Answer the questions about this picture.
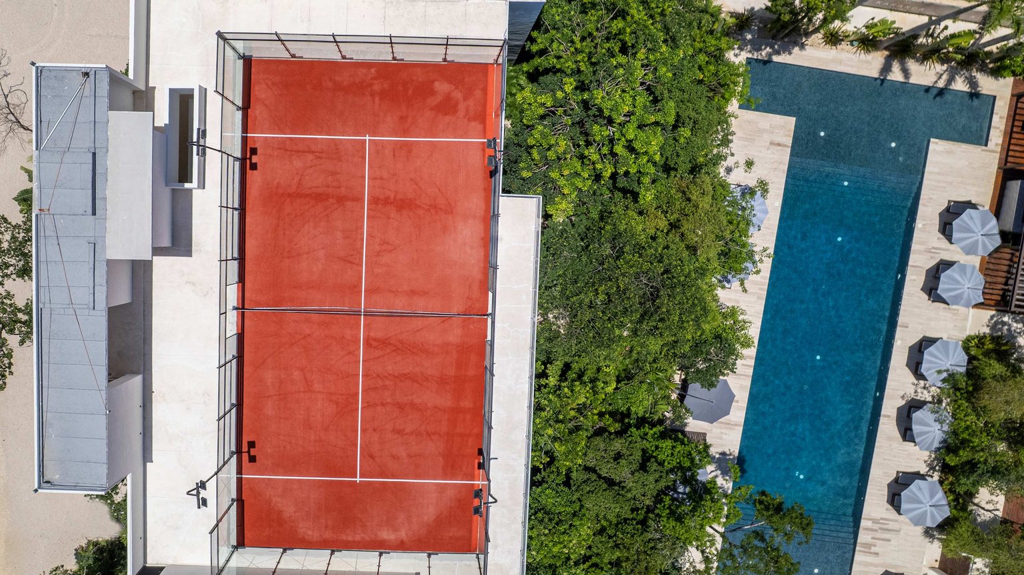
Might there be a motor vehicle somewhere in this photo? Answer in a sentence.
No, there's no motor vehicle here.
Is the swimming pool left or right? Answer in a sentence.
It is on the right.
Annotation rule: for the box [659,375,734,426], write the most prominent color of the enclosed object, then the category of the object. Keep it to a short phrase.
gray umbrella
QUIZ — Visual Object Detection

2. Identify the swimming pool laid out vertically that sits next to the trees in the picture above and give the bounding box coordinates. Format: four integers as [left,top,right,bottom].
[715,56,998,575]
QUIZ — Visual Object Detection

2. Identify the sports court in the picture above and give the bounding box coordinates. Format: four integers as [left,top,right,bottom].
[236,57,495,555]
